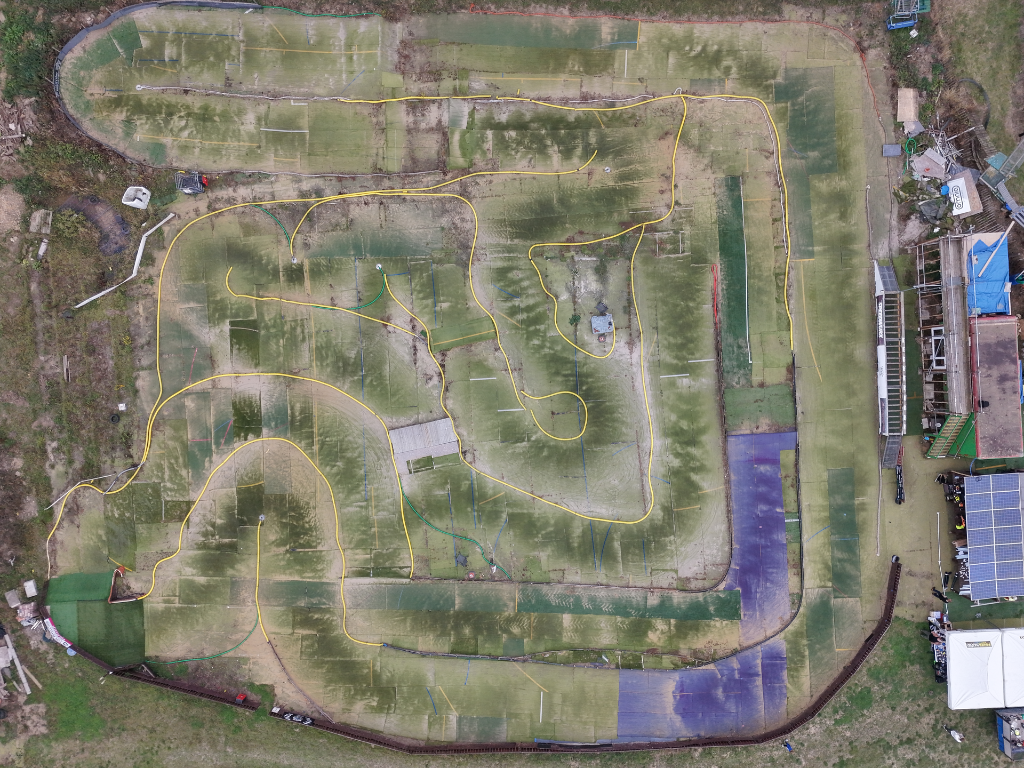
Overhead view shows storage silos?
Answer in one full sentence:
No, I find no storage silo anywhere in the image.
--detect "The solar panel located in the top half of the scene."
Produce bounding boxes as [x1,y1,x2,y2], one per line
[882,144,901,157]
